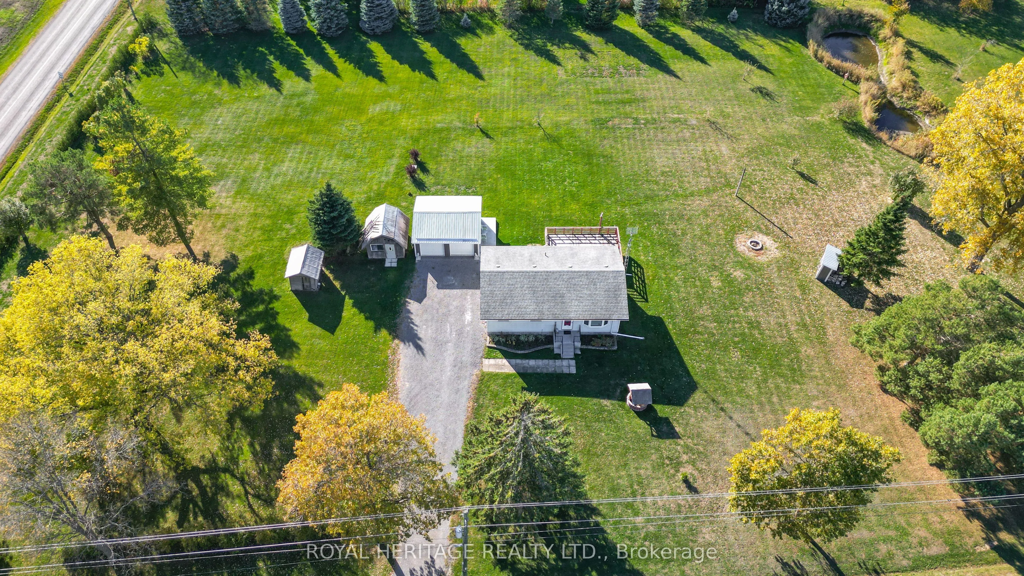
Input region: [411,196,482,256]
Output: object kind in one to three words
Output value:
building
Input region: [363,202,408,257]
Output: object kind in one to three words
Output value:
shed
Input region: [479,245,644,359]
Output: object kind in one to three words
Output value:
house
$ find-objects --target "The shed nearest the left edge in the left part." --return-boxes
[281,244,321,291]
